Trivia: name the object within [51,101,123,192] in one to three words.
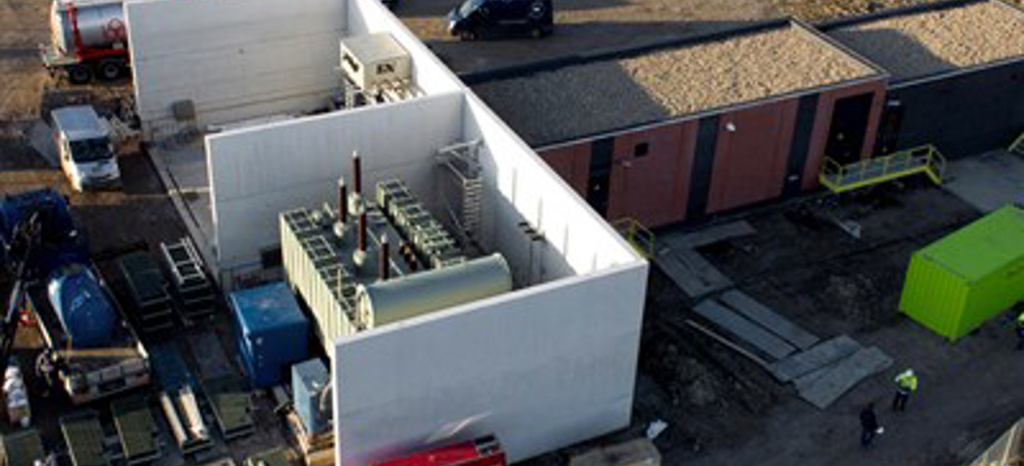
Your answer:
van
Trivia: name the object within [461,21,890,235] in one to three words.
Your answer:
building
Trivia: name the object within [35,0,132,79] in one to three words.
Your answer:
trailer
